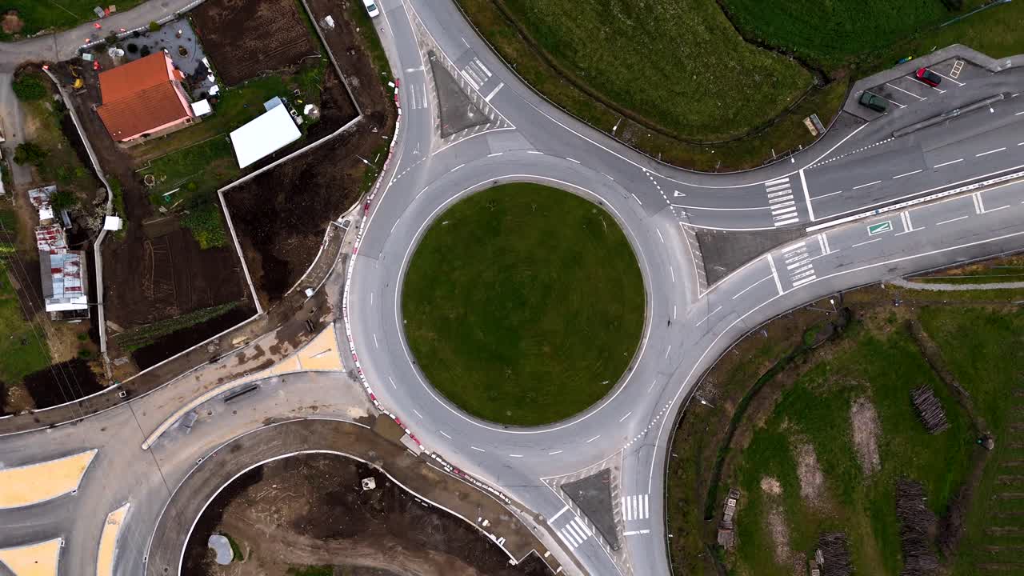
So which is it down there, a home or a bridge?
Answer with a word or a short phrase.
home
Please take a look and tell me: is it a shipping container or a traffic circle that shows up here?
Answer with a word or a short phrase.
traffic circle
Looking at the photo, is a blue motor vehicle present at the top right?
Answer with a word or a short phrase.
No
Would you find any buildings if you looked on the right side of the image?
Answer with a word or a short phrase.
No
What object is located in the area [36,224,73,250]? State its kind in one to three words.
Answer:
shed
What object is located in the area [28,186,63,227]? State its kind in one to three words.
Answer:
shed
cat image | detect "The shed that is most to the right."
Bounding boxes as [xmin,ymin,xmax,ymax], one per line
[231,96,303,169]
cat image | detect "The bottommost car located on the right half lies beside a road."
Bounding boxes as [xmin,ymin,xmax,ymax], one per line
[857,91,891,112]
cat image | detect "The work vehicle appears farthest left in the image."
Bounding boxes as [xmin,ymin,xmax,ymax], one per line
[68,65,87,92]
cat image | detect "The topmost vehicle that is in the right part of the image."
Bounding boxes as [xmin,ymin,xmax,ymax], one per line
[914,68,942,87]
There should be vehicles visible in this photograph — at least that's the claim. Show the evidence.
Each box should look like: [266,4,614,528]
[914,68,942,87]
[68,65,87,92]
[857,91,891,112]
[363,0,380,19]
